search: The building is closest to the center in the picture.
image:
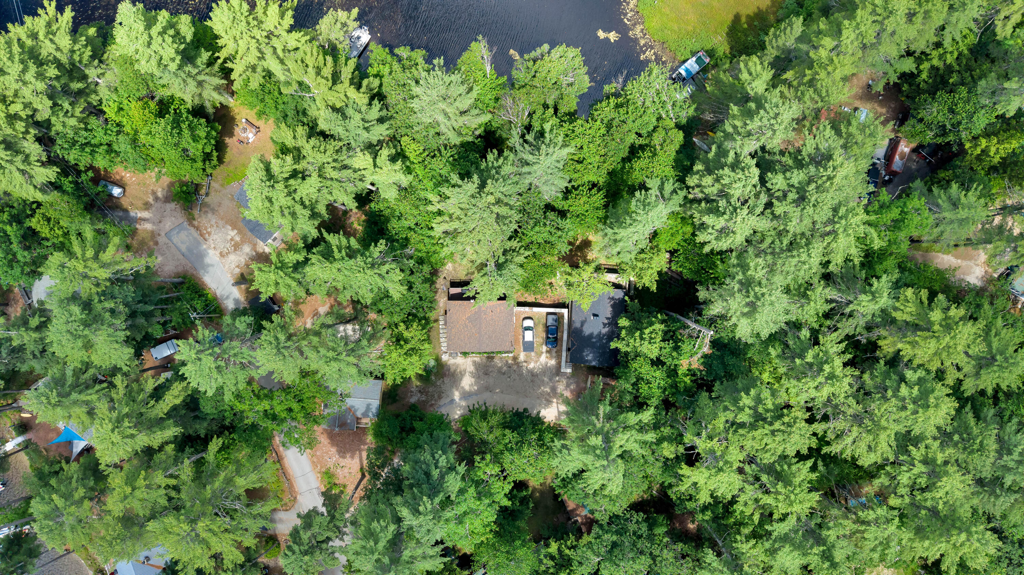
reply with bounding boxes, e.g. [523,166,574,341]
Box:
[445,287,514,352]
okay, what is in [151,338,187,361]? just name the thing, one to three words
camper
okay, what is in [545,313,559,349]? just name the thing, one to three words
vehicle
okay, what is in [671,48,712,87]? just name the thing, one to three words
boat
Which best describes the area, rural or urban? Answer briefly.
rural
